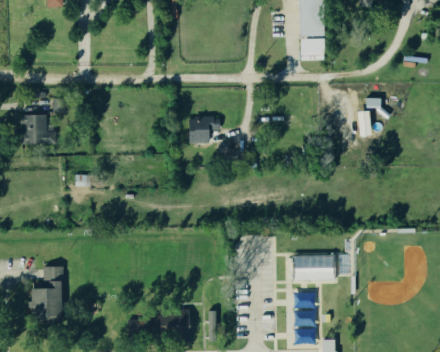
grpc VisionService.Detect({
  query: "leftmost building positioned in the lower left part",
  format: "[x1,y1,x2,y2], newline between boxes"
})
[32,266,64,319]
